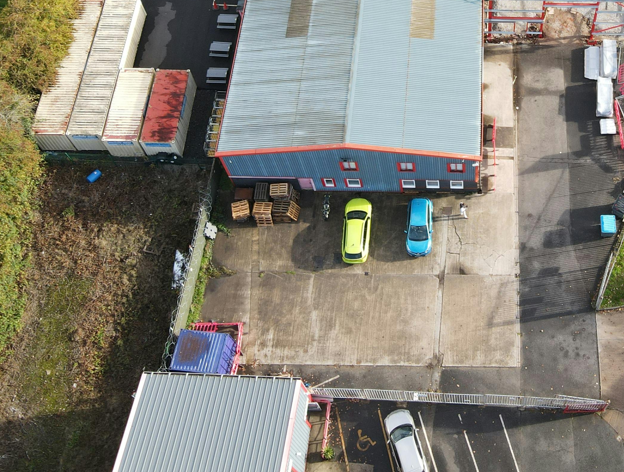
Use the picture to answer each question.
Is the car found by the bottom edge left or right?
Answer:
right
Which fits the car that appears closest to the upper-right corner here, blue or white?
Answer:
blue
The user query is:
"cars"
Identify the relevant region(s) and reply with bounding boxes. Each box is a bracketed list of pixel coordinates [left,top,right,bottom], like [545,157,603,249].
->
[402,200,435,259]
[339,201,374,266]
[390,410,427,472]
